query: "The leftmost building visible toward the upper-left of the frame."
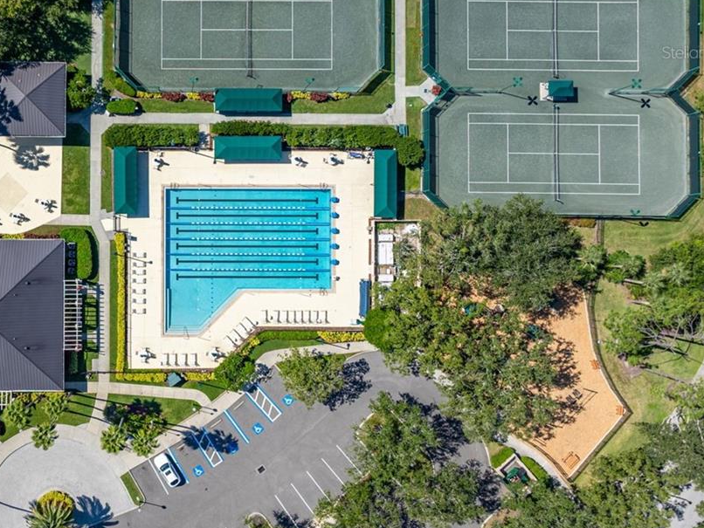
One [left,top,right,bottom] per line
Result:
[0,61,68,137]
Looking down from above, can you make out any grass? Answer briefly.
Yes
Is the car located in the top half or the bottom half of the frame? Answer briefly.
bottom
